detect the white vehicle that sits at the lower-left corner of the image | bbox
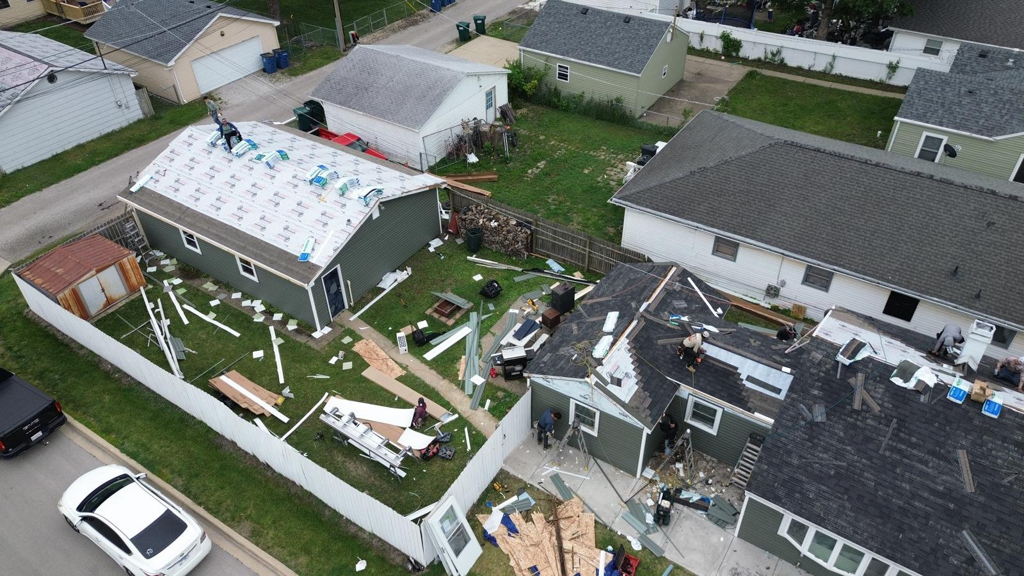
[62,469,217,576]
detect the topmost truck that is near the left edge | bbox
[0,355,71,469]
